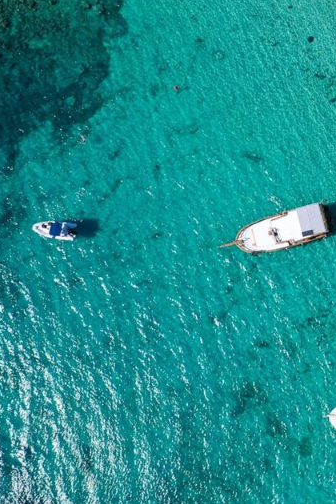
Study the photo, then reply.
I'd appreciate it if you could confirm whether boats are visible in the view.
Yes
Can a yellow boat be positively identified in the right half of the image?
No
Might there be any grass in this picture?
No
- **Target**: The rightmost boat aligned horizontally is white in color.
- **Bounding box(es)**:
[220,200,336,251]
